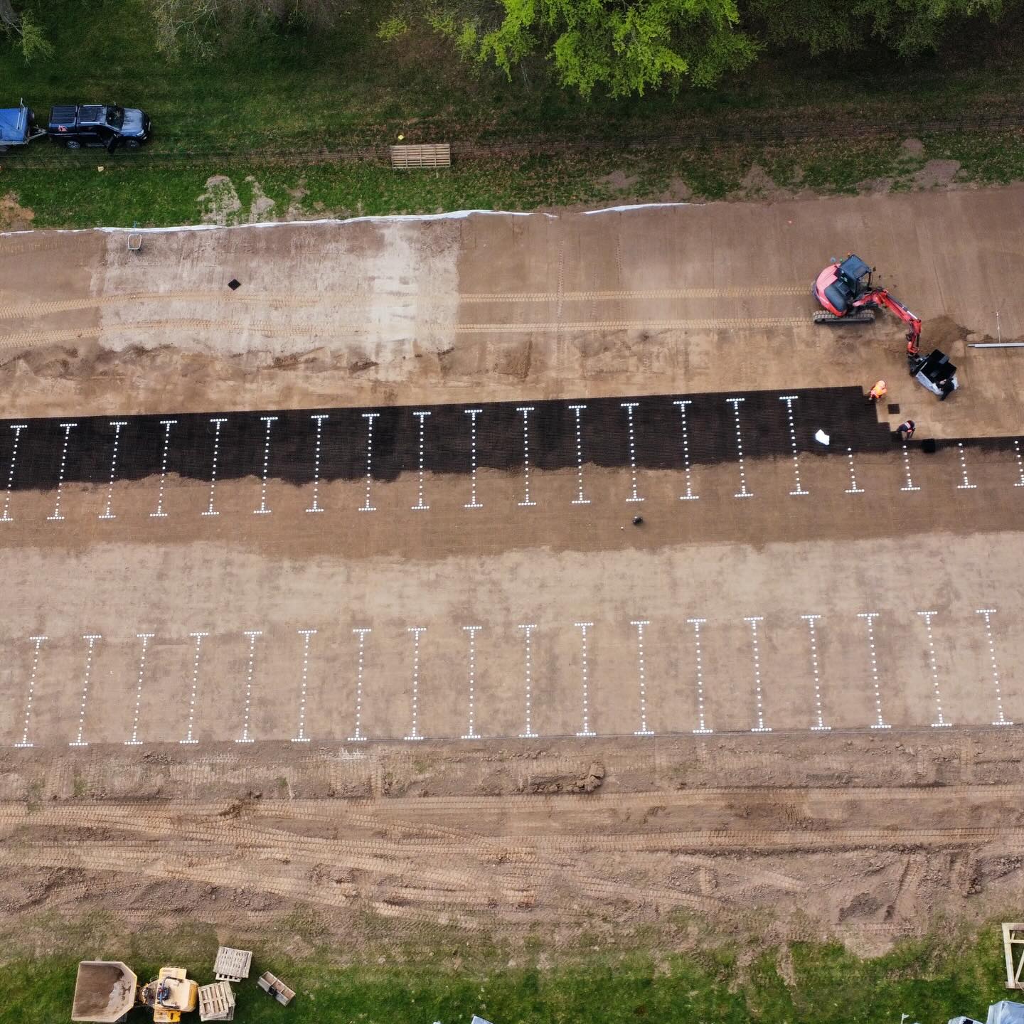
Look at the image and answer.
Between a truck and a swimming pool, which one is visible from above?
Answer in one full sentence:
I can see a truck in this picture.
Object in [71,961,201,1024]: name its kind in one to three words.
truck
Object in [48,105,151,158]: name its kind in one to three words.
truck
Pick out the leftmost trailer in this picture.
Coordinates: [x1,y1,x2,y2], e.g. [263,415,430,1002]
[0,102,50,148]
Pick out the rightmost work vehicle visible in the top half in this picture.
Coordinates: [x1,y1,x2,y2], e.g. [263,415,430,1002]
[813,255,928,381]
